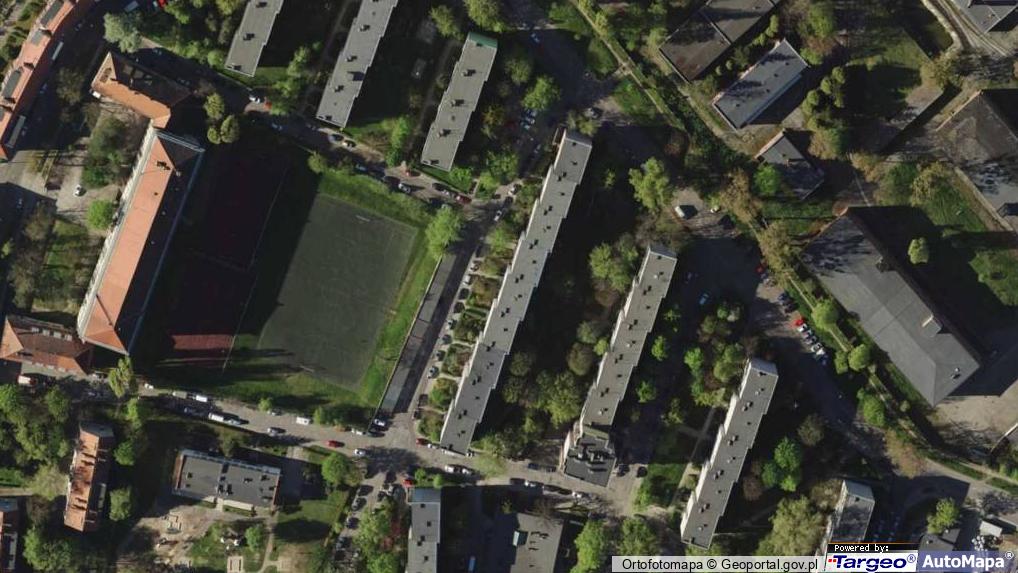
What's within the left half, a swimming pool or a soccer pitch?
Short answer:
soccer pitch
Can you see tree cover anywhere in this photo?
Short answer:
Yes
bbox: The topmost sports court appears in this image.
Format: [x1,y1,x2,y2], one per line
[187,146,284,267]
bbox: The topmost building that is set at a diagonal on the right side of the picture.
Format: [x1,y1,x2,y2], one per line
[659,0,779,82]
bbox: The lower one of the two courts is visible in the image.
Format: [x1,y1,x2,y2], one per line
[160,247,249,357]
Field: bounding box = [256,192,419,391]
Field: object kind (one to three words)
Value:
soccer field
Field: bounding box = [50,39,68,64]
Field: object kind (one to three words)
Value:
vehicle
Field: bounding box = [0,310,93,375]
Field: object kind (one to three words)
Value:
house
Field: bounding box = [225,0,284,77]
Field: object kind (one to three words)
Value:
building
